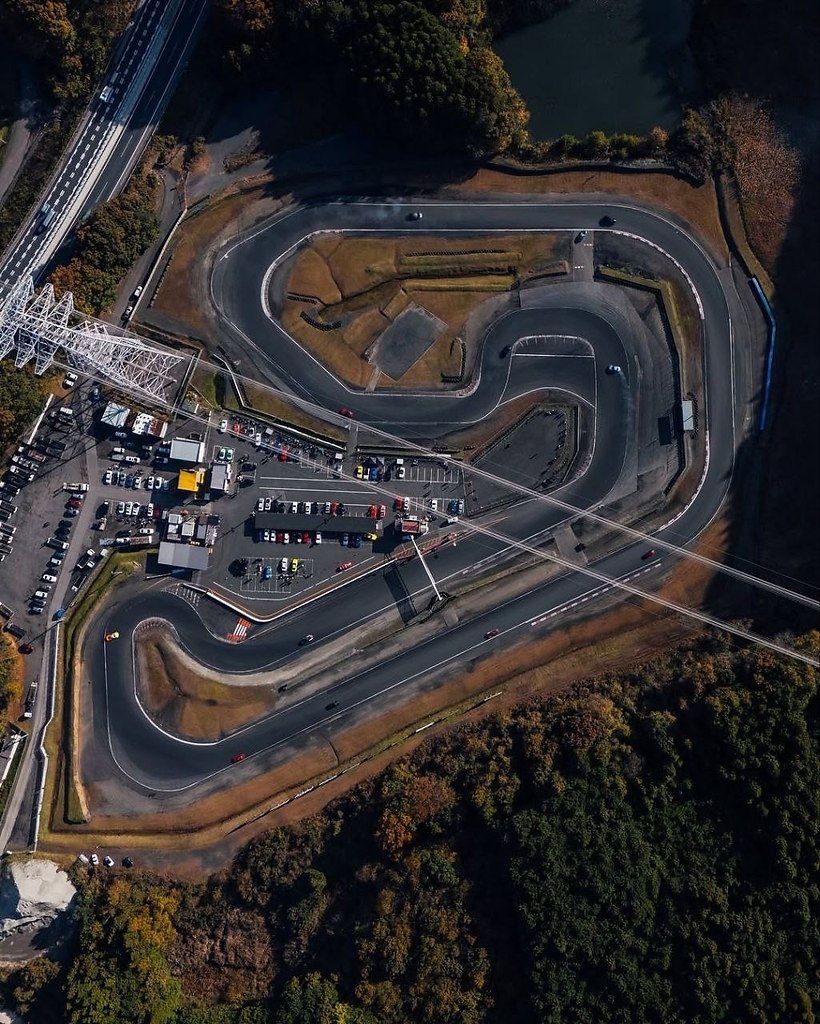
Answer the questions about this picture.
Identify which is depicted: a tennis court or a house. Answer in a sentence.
There is a house in the scene.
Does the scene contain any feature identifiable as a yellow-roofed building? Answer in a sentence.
Yes, there's a yellow-roofed building here.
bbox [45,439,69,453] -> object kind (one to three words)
vehicle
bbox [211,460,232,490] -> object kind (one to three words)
building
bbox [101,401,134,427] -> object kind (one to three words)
house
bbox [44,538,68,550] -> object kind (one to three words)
vehicle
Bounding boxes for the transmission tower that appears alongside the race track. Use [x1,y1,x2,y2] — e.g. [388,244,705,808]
[0,266,187,409]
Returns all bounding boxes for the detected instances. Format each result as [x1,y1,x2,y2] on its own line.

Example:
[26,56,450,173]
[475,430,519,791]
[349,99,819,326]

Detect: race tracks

[86,203,735,791]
